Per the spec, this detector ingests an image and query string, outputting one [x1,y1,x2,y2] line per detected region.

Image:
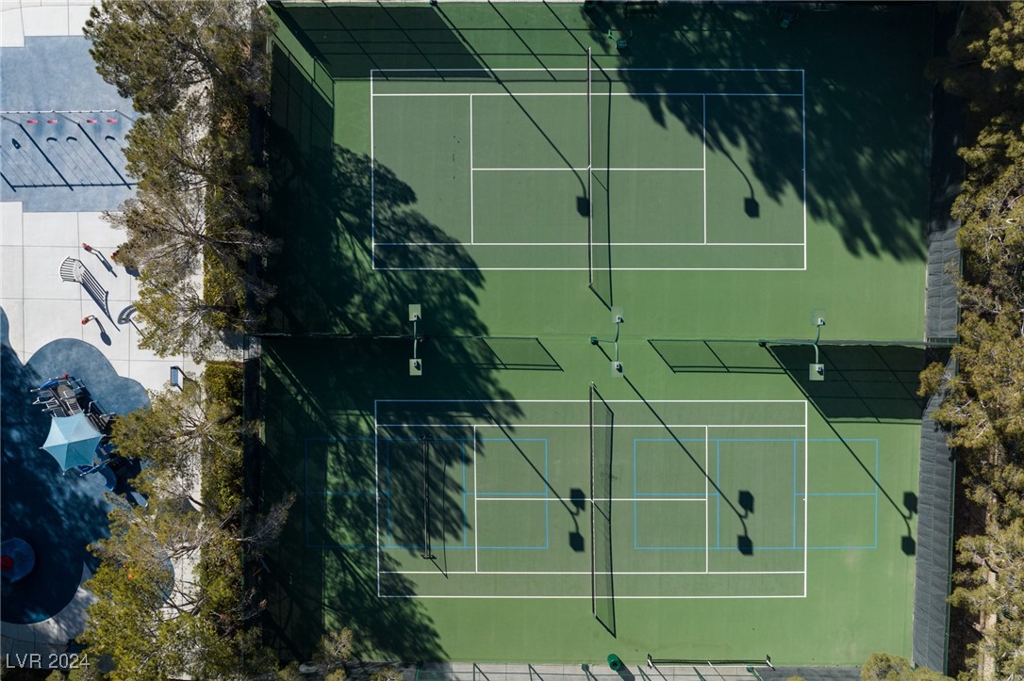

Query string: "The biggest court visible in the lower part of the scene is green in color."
[260,341,924,666]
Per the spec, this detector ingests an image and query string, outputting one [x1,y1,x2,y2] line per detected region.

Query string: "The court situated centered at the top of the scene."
[261,1,931,341]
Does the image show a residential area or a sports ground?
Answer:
sports ground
